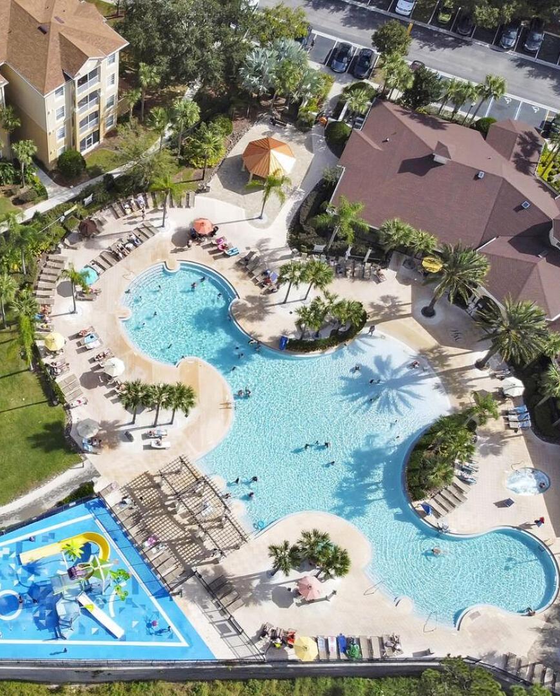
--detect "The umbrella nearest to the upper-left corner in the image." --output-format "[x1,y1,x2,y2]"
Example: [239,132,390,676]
[75,218,99,241]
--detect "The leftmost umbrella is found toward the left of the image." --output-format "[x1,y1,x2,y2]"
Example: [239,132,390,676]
[42,333,68,355]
